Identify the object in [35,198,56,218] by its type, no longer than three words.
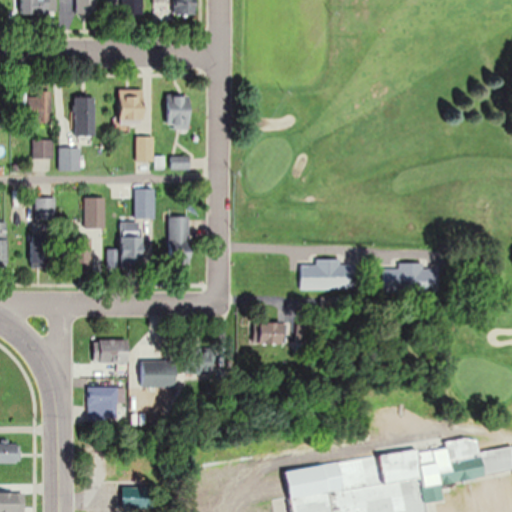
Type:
building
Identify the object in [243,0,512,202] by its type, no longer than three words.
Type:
golf course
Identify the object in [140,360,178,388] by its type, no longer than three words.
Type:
house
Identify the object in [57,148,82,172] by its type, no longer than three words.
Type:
building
